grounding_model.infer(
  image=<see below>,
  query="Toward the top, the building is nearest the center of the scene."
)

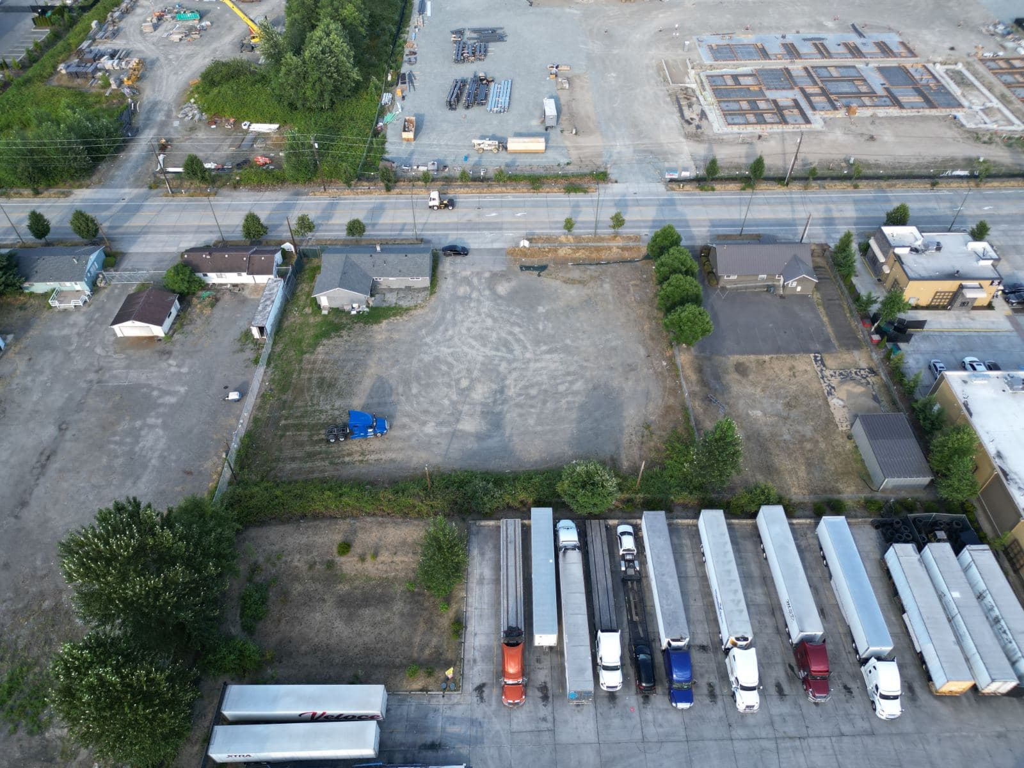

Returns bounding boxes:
[311,245,433,314]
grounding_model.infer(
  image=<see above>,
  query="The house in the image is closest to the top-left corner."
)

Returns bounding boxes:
[0,246,108,306]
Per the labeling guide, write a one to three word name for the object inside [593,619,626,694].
truck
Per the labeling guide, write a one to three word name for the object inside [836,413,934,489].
shed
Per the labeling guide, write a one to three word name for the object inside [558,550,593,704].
trailer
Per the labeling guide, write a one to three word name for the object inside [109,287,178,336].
building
